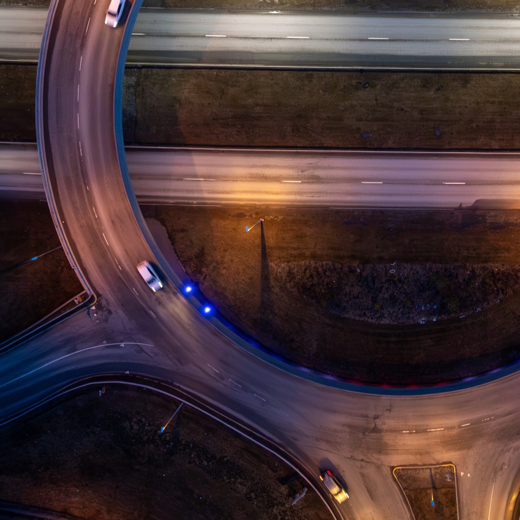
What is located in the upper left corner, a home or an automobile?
automobile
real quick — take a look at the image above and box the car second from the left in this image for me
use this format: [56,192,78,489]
[136,259,163,292]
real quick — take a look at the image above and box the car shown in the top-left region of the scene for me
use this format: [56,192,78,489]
[105,0,125,27]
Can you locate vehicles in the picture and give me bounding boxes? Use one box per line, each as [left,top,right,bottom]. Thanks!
[321,468,348,503]
[136,259,163,292]
[105,0,125,27]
